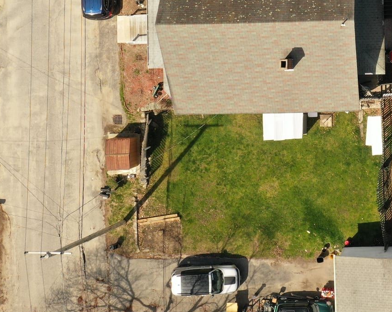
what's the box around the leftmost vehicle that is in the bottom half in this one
[171,263,242,299]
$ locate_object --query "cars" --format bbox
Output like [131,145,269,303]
[275,295,334,312]
[171,263,242,299]
[83,0,120,19]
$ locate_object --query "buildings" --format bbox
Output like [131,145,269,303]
[333,247,392,312]
[105,130,145,177]
[155,0,362,115]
